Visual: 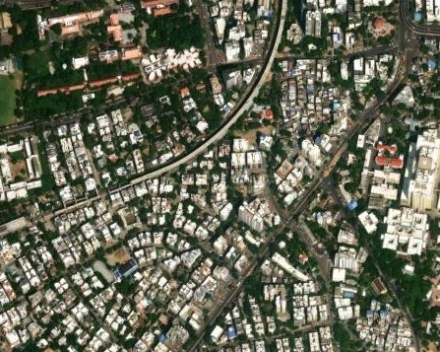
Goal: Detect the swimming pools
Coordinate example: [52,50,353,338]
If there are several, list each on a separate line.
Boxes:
[335,284,357,297]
